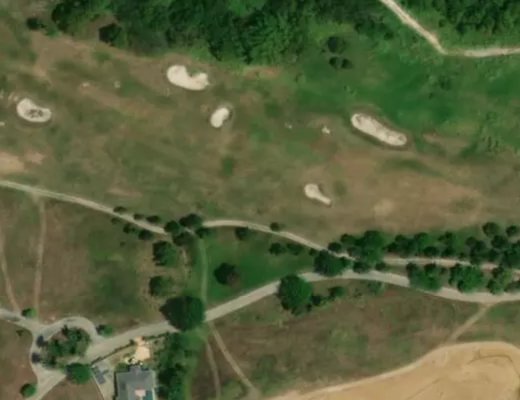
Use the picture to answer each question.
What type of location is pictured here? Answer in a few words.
golf course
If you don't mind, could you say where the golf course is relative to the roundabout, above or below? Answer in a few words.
above it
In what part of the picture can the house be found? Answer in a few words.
bottom left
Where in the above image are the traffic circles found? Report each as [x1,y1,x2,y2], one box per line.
[25,317,113,400]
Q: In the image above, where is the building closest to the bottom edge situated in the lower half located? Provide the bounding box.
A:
[116,366,154,400]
